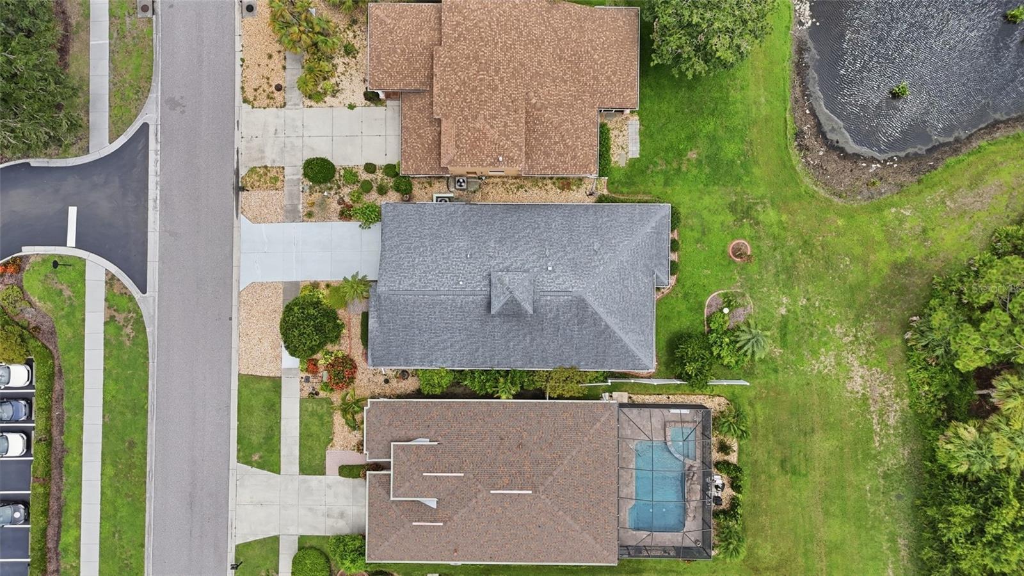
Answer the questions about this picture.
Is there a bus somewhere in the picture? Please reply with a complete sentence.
No, there's no bus here.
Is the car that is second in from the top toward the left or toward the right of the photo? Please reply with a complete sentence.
The car that is second in from the top sits on the left side.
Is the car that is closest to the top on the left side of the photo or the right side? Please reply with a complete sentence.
The car that is closest to the top appears in the left half of the scene.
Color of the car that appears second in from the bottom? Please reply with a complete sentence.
The color of the car that appears second in from the bottom is white.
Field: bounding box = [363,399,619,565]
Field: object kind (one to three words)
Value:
house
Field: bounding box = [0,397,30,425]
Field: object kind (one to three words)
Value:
car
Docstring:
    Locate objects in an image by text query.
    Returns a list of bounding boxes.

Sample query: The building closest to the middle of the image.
[367,200,673,374]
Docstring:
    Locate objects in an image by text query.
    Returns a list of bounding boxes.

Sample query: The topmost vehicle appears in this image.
[0,363,33,390]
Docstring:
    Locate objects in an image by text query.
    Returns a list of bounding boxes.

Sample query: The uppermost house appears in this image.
[366,0,641,194]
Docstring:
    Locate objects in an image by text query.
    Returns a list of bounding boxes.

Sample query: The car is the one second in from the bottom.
[0,431,28,459]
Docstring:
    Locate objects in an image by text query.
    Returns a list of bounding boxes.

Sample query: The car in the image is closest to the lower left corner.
[0,500,30,529]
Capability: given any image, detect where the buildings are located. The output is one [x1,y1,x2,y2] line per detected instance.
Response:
[367,200,673,374]
[366,0,641,194]
[363,399,619,565]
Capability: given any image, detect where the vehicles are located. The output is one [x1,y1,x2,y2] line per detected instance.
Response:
[0,431,28,459]
[0,397,30,425]
[0,500,30,529]
[0,363,33,390]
